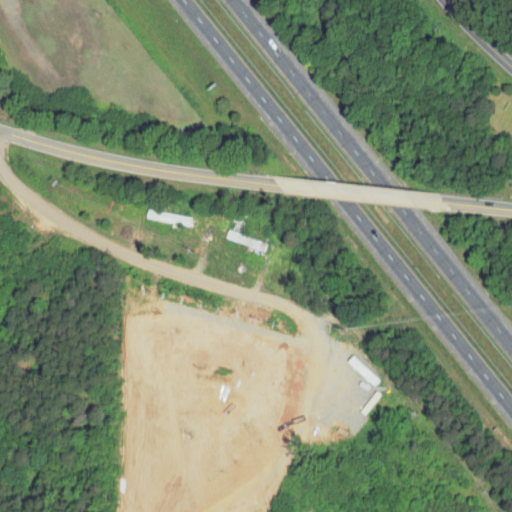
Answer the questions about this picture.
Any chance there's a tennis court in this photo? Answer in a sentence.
No, I find no tennis court anywhere in the image.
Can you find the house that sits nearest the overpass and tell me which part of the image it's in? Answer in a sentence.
You can find the house that sits nearest the overpass in the center area of the picture.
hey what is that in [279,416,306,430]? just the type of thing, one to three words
vehicle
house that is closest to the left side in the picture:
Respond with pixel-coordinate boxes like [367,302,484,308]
[146,208,194,228]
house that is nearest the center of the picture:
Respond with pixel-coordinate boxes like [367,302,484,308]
[226,218,268,252]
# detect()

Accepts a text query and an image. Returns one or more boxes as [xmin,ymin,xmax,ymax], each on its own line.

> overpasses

[272,176,442,212]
